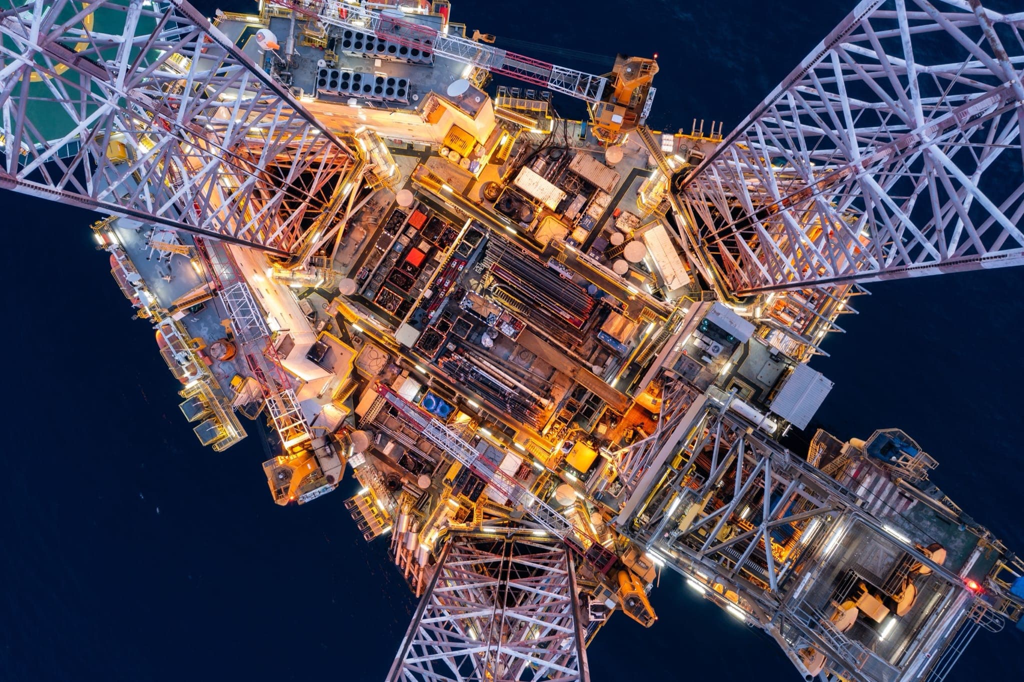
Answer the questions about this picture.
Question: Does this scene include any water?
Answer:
Yes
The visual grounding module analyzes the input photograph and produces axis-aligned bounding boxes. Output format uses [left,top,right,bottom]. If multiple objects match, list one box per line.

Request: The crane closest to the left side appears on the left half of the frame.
[146,80,351,509]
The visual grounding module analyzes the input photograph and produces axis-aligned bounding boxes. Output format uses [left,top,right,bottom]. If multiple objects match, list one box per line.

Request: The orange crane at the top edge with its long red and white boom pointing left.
[266,0,662,140]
